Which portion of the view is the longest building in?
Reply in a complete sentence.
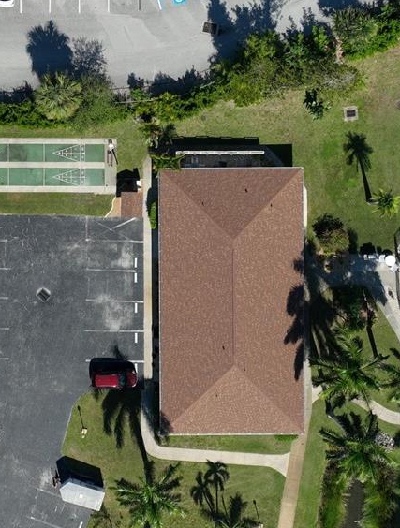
The longest building sits in the center section of the image.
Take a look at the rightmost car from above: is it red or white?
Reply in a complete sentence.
The color of the rightmost car is red.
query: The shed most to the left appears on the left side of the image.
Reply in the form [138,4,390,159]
[122,191,143,218]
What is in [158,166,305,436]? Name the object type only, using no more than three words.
building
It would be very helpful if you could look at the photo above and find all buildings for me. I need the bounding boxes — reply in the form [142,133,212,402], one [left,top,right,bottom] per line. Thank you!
[158,166,305,436]
[122,191,143,218]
